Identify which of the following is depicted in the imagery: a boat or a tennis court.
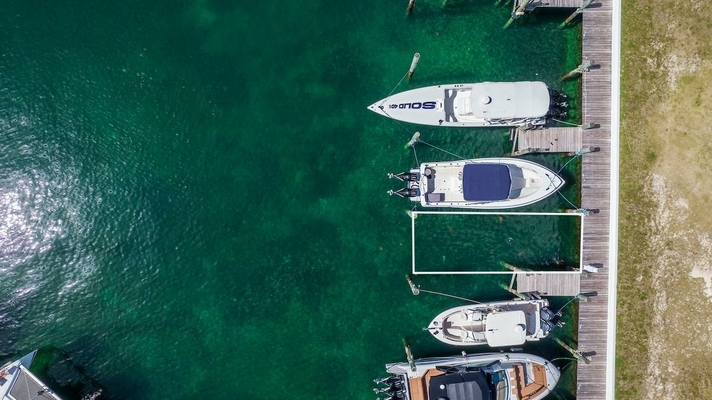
boat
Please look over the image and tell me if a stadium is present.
No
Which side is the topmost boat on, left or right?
right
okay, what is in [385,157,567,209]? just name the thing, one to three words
boat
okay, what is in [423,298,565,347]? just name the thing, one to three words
boat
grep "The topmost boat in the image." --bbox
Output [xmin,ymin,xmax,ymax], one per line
[368,81,565,128]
